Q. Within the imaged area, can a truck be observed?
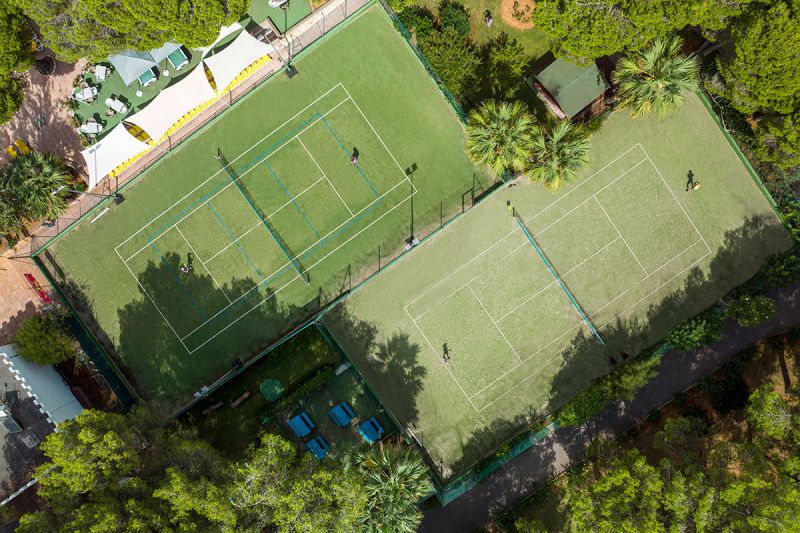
No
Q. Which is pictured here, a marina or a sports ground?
sports ground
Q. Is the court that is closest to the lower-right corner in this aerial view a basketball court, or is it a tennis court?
tennis court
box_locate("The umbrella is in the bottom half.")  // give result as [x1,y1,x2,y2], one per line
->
[260,378,284,403]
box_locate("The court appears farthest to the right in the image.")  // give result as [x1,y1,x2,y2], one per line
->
[316,72,795,485]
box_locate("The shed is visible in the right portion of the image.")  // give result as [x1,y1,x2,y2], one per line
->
[529,52,609,122]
